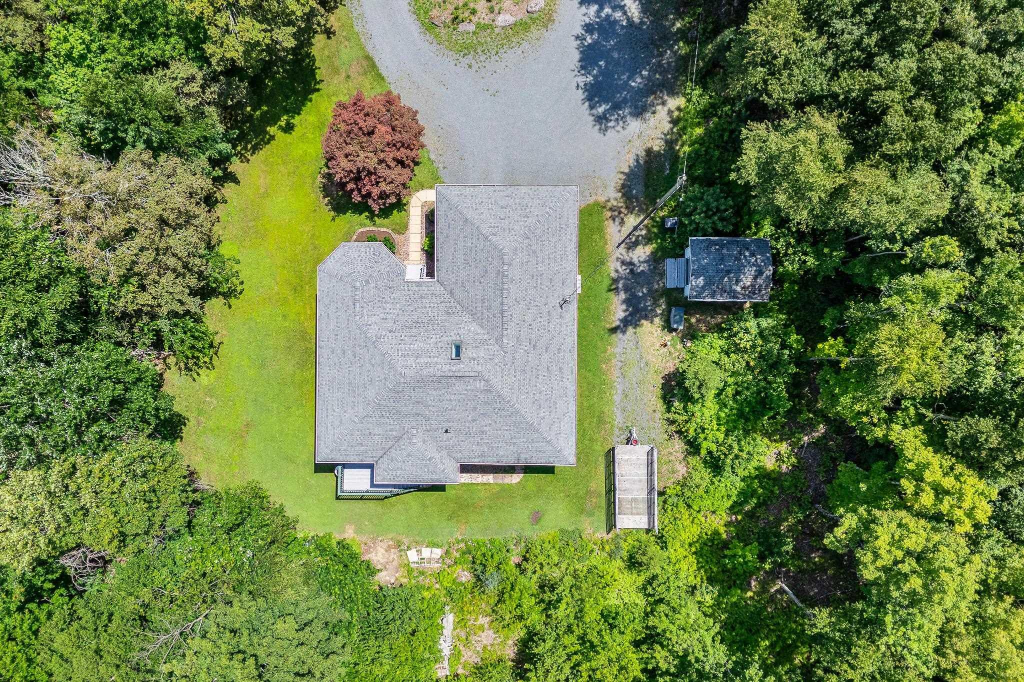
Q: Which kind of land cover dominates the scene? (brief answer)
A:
trees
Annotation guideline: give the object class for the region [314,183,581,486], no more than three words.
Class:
house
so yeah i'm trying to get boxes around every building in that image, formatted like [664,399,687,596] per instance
[314,183,581,486]
[685,237,775,302]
